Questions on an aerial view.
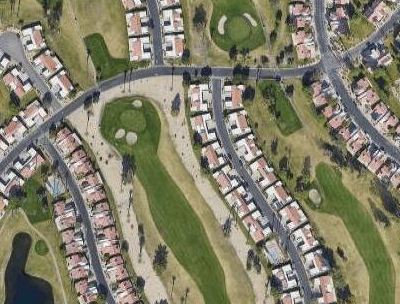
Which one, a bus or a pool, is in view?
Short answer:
pool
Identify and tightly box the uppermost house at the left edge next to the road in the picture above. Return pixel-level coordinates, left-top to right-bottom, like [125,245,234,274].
[17,22,47,53]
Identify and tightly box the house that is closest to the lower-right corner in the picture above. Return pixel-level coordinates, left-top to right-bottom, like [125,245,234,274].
[312,277,340,304]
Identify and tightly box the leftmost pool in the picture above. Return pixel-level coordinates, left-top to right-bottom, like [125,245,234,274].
[45,174,67,197]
